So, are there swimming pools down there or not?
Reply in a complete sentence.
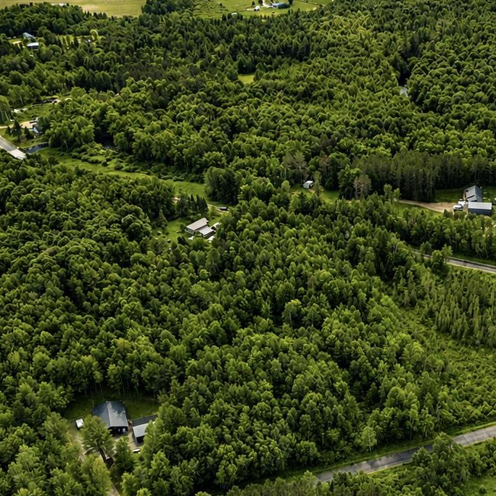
No, there appears to be no swimming pool in this shot.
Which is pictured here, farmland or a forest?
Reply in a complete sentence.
This looks like a forest.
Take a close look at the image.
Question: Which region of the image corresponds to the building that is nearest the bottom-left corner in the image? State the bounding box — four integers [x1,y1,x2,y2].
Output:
[90,400,132,447]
